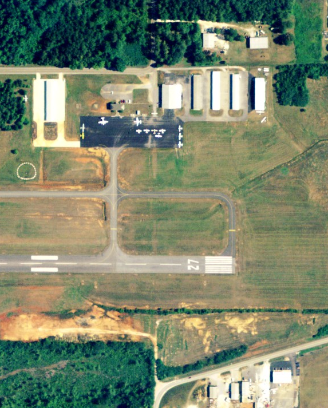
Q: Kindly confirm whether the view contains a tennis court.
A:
No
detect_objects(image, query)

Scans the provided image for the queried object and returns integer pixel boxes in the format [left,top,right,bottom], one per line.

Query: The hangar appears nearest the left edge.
[46,81,59,121]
